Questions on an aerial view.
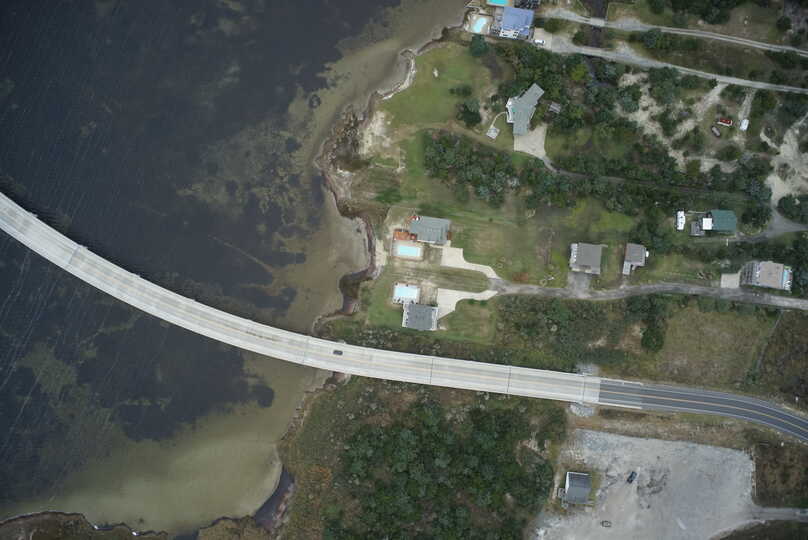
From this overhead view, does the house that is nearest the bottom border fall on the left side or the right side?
right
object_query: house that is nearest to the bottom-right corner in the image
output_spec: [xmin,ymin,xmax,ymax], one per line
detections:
[558,471,594,509]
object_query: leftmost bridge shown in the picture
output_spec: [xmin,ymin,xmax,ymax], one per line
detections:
[0,189,597,403]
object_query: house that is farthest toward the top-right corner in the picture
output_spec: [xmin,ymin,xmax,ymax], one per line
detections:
[690,210,737,235]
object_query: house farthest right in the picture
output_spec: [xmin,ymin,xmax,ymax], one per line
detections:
[739,262,784,288]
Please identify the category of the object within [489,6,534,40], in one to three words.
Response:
house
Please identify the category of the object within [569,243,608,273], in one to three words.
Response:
house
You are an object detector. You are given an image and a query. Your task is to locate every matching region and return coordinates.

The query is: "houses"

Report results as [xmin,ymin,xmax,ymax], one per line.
[402,298,438,331]
[507,83,544,136]
[569,243,608,273]
[489,6,534,40]
[622,243,646,275]
[558,471,594,509]
[394,216,452,243]
[739,262,784,288]
[690,210,737,235]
